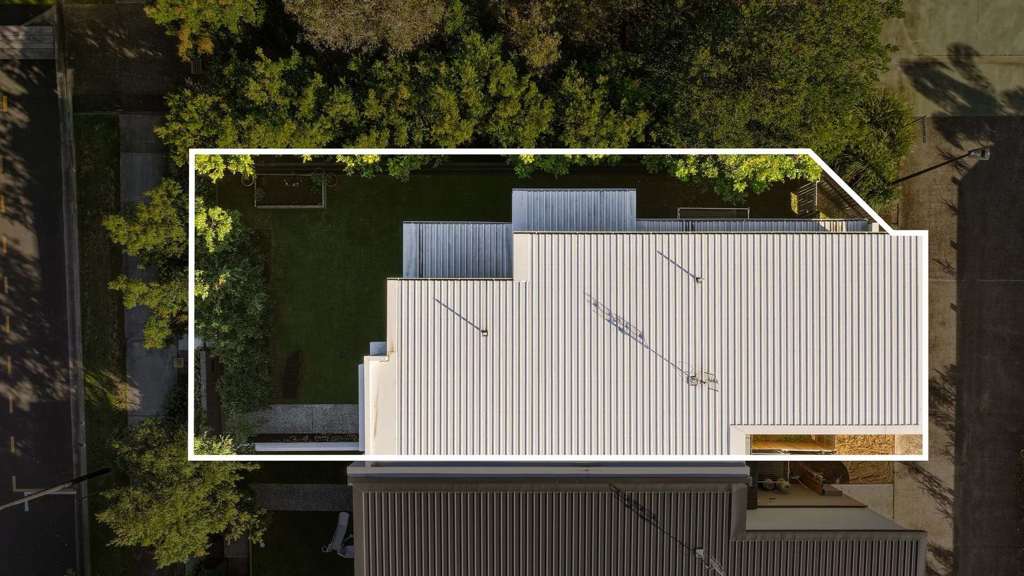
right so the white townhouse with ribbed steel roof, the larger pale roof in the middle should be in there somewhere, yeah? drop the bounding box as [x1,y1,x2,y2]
[348,189,922,474]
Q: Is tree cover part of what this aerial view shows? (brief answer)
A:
Yes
